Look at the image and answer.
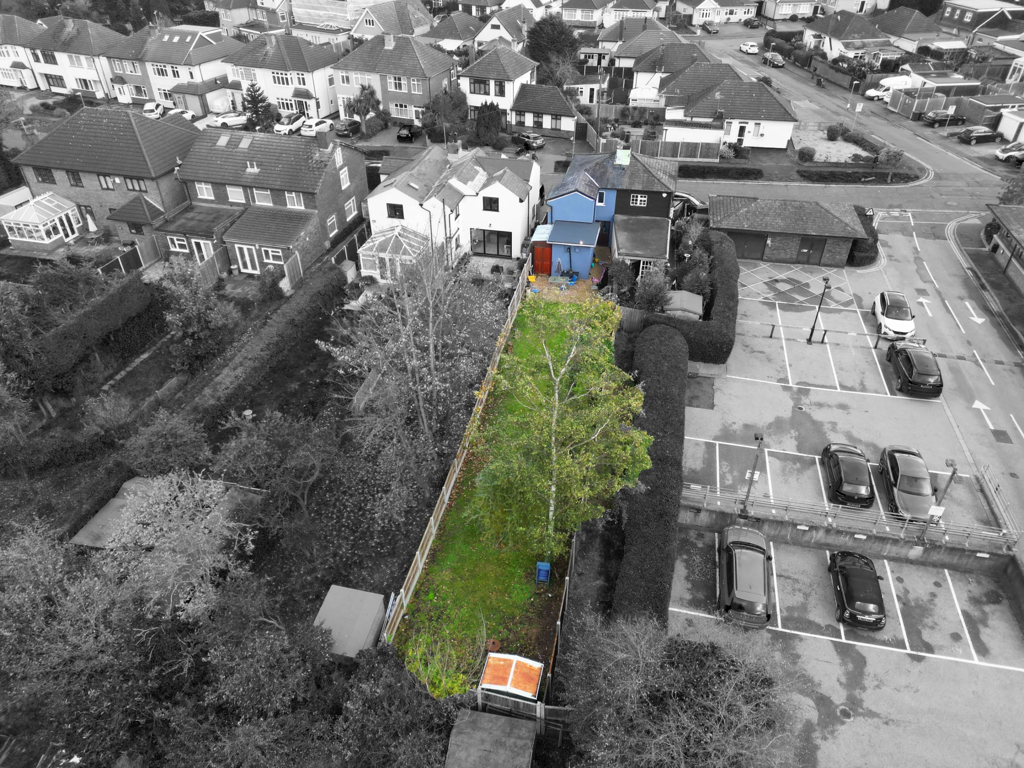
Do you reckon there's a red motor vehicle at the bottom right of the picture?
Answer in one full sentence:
No, no red motor vehicle can be made out at the bottom right of the picture.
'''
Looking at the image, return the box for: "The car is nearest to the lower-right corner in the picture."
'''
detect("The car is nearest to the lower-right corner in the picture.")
[829,544,894,628]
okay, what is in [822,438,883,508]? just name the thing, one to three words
car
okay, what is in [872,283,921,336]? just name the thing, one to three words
car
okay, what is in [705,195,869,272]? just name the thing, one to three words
shed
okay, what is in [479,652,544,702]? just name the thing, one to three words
shed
